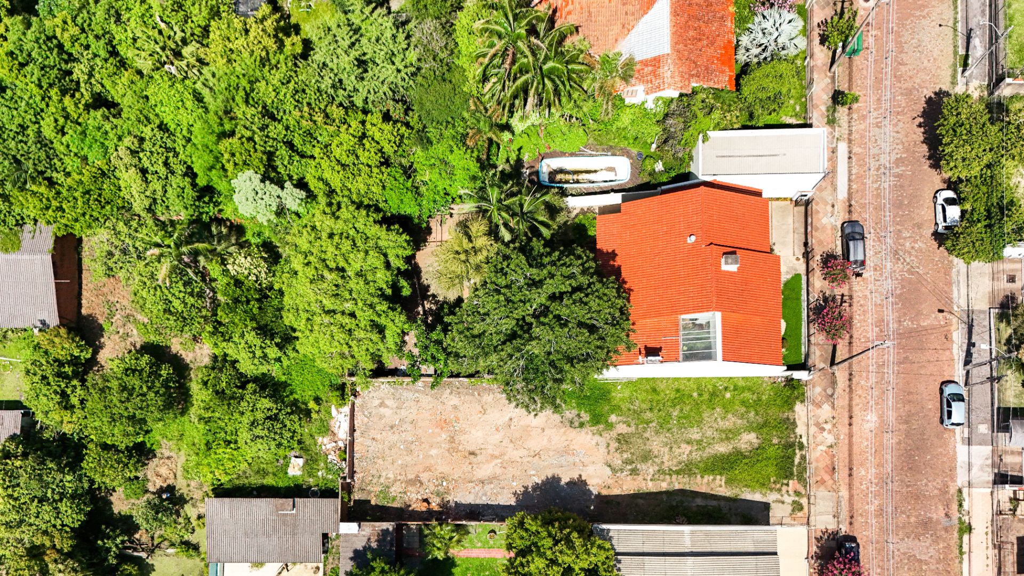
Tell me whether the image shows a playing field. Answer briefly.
No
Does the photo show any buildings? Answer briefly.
Yes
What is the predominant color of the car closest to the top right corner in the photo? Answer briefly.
white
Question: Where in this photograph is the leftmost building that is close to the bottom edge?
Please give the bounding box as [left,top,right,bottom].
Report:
[204,498,347,563]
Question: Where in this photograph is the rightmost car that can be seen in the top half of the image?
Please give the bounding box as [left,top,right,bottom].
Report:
[933,187,964,236]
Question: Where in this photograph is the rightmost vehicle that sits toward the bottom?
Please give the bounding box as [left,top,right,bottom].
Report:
[939,382,970,429]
